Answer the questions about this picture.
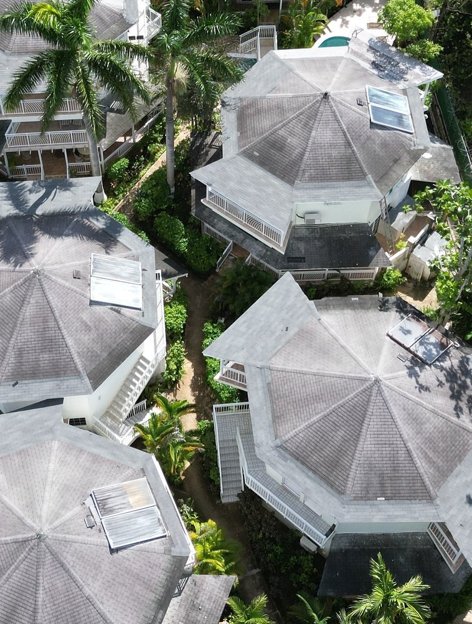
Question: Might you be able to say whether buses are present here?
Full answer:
No, the frame has no bus in it.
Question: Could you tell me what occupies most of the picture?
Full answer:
The bulk of the photo consists of buildings.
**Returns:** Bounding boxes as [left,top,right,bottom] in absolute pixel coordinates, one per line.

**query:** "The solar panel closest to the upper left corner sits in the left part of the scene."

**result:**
[88,254,141,311]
